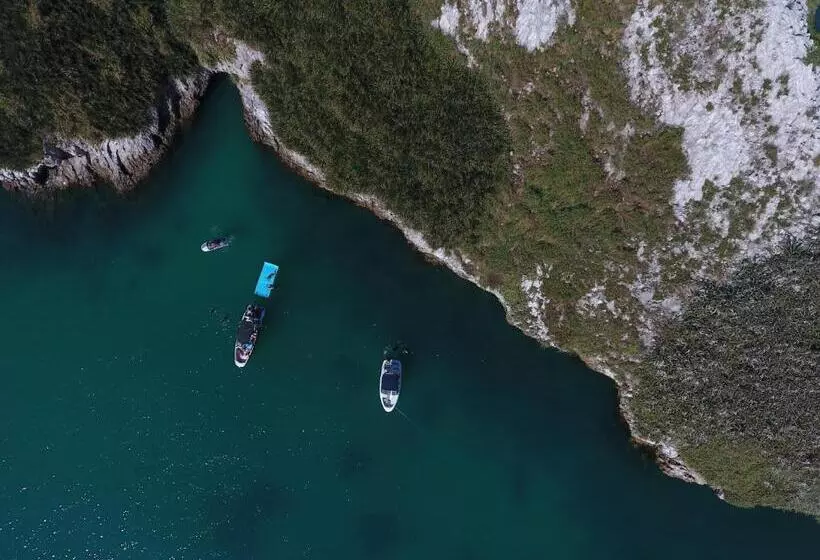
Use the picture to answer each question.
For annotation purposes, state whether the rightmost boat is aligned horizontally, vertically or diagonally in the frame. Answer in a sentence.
Seen from above, the rightmost boat lies vertically.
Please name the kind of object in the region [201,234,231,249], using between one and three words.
boat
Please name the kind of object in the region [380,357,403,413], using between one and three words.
boat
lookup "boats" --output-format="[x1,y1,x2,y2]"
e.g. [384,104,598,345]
[380,357,403,413]
[235,303,263,365]
[201,234,231,249]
